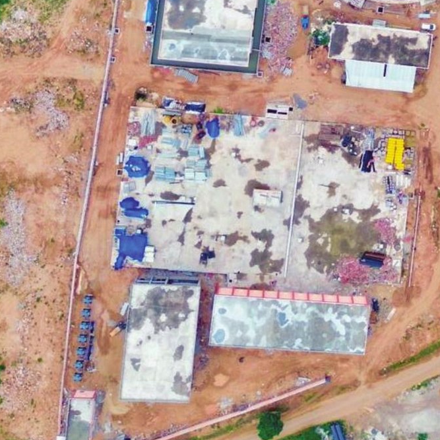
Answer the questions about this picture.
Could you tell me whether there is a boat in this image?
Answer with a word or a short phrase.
No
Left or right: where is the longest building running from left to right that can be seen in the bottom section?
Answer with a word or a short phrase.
right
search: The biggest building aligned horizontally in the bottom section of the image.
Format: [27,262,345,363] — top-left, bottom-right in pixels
[208,279,373,355]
